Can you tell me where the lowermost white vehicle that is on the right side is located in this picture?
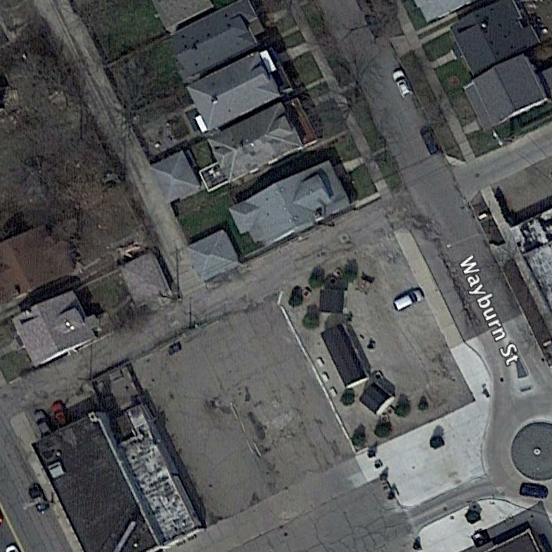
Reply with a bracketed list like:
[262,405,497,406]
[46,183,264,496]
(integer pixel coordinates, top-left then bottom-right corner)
[395,289,424,310]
